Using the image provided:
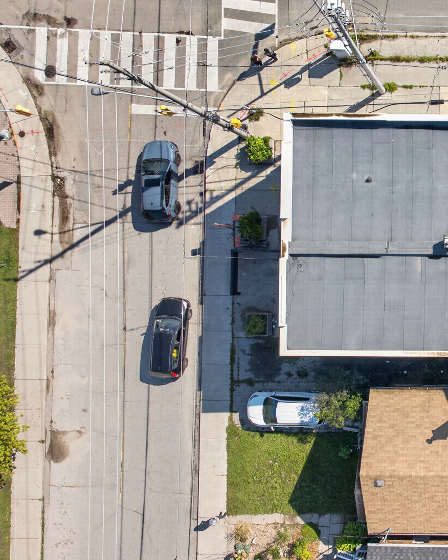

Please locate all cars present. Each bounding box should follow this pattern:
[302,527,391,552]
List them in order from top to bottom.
[135,141,182,224]
[144,296,190,380]
[247,391,332,432]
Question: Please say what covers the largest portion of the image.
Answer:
paved ground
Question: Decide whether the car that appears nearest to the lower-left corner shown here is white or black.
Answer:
black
